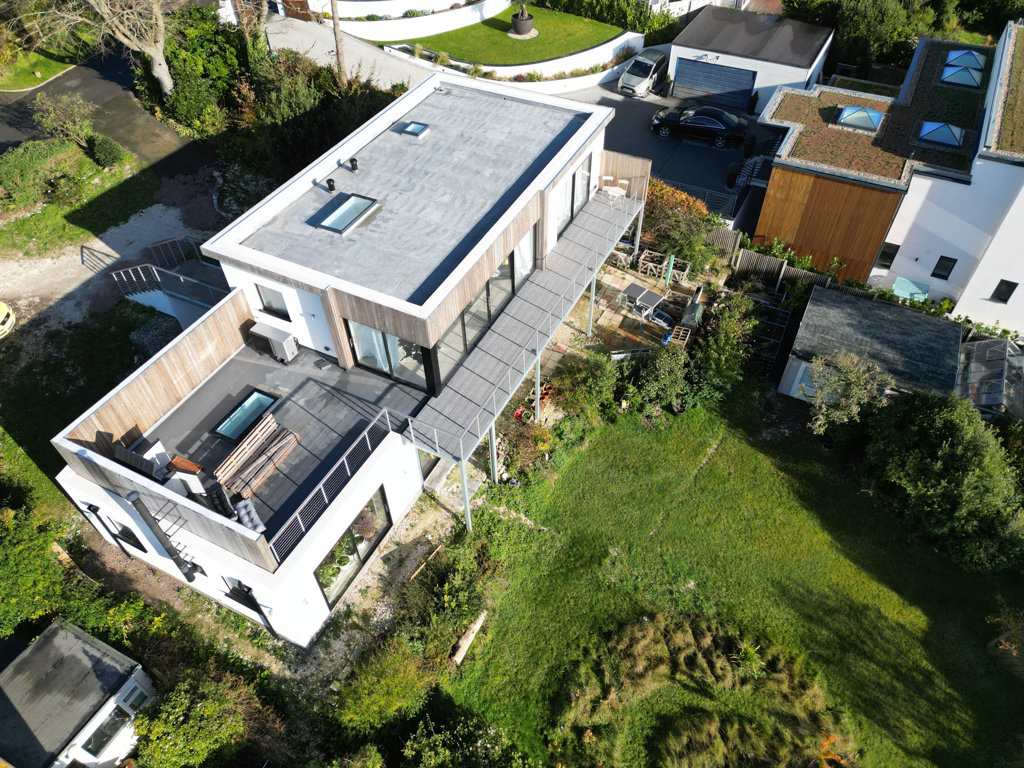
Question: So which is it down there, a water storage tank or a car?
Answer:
car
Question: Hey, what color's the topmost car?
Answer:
black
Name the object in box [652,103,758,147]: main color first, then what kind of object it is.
black car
